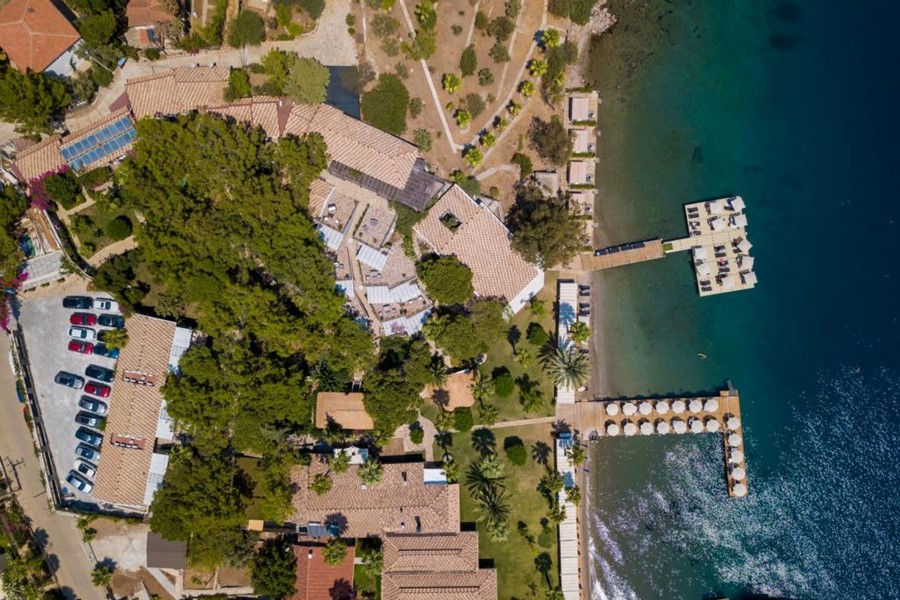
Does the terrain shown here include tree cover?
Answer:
Yes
